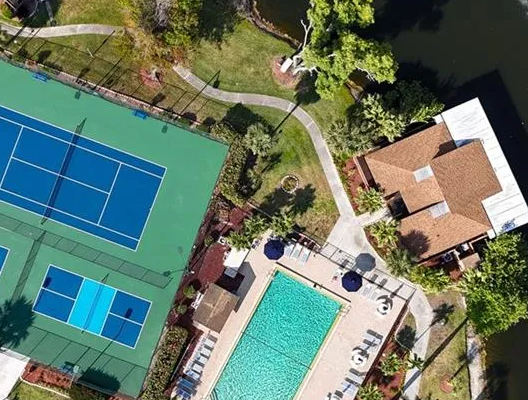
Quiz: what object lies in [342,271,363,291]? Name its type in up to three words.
umbrella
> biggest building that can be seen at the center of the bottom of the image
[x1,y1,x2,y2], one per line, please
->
[192,283,239,333]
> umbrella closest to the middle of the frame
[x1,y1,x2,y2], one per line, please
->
[265,239,285,259]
